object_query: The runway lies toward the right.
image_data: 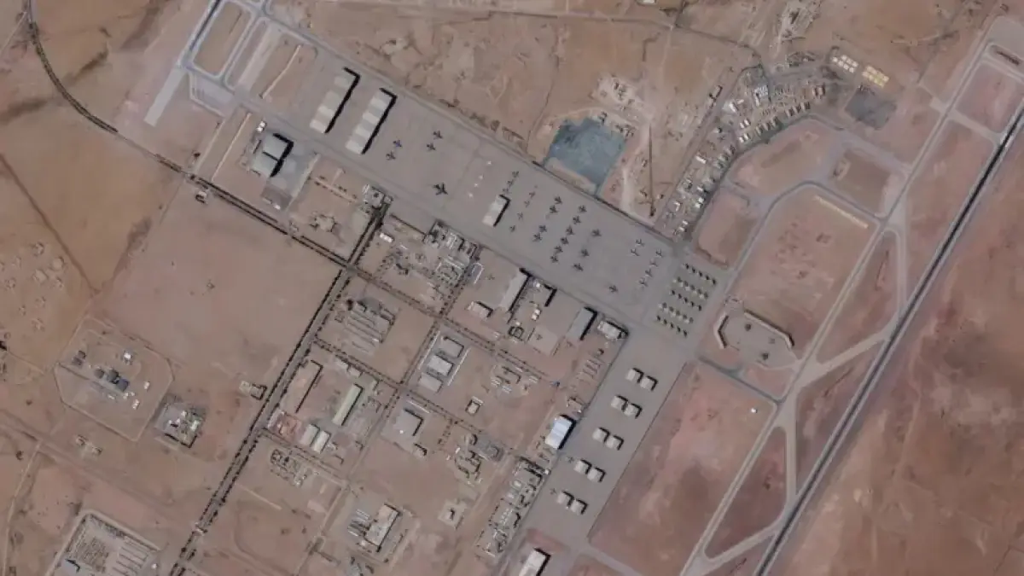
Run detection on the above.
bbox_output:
[751,98,1024,576]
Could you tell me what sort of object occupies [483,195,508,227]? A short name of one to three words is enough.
hangar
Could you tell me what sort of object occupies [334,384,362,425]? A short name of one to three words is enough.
building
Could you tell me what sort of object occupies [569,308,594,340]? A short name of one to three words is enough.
hangar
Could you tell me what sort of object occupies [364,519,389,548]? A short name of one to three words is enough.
building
